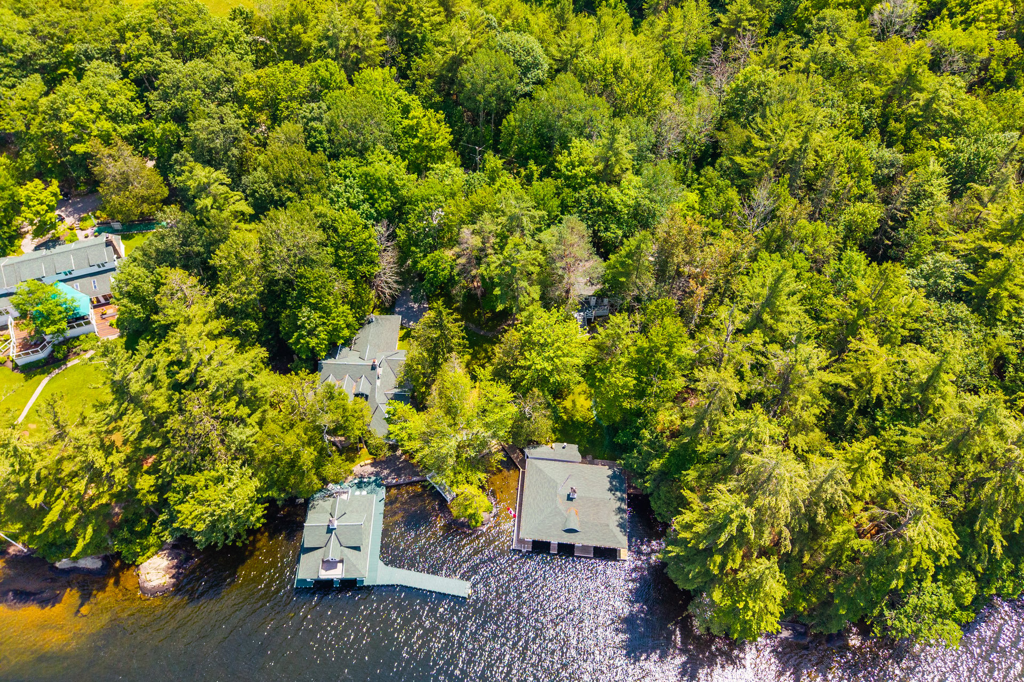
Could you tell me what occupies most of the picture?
trees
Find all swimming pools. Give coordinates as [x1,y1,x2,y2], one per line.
[89,220,168,235]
